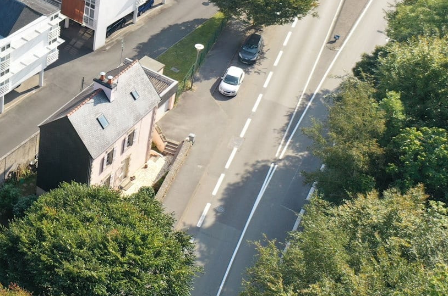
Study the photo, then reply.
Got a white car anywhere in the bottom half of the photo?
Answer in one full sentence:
No, looking in the bottom half of the photo, there is no white car.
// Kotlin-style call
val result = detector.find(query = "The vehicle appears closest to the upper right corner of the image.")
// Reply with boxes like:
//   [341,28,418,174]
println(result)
[241,30,267,61]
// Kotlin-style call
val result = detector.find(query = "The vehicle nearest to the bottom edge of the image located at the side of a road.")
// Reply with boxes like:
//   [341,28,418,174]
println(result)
[219,62,249,95]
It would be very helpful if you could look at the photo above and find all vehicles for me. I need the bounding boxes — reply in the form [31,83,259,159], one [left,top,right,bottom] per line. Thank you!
[136,0,162,15]
[241,30,267,61]
[219,62,249,95]
[104,19,124,39]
